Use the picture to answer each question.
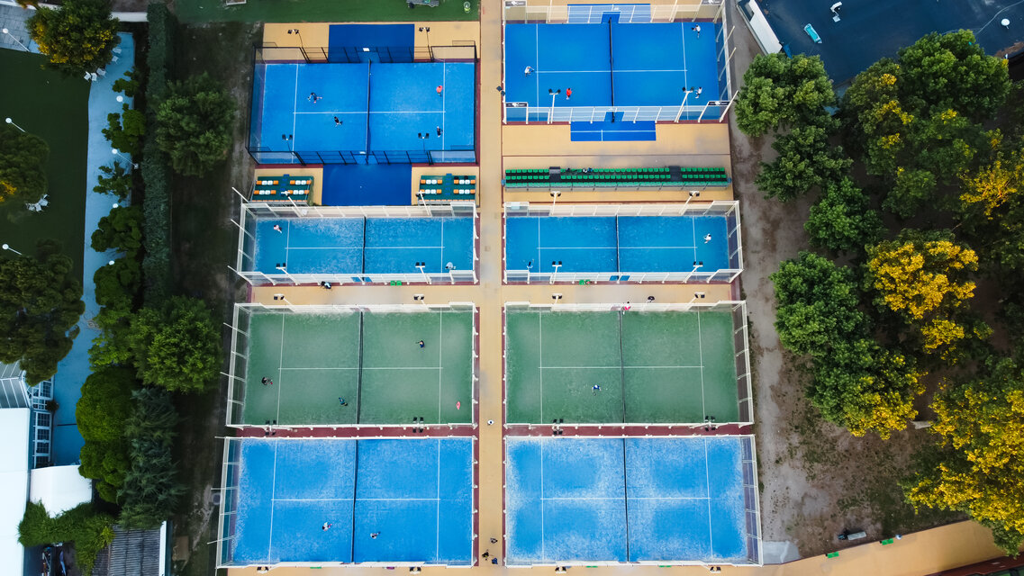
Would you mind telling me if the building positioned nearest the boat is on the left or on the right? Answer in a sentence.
The building positioned nearest the boat appears in the right half of the scene.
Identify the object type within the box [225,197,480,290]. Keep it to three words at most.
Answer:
sports court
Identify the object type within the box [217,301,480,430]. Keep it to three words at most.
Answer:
sports court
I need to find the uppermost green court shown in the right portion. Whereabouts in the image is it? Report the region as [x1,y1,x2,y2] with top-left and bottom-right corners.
[501,299,755,429]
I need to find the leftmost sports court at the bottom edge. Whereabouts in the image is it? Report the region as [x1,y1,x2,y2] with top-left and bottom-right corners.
[203,435,479,572]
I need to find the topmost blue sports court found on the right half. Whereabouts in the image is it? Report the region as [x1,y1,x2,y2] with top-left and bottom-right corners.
[501,0,741,127]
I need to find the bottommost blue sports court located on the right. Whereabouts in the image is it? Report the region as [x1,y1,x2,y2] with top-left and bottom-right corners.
[502,434,764,569]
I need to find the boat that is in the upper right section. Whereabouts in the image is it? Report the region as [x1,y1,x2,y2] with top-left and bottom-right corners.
[805,24,824,43]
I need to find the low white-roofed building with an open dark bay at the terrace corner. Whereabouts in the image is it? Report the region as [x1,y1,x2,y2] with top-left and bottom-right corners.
[732,0,783,58]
